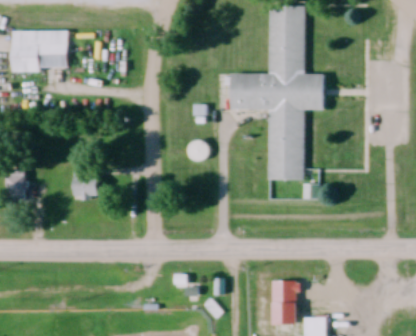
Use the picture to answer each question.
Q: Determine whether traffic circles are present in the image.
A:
No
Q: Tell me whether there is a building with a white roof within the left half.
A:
Yes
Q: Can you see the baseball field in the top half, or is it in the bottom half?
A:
bottom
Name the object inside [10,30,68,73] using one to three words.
building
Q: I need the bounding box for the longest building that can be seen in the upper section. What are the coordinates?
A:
[230,4,324,180]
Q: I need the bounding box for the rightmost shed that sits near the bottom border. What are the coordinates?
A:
[304,317,329,336]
